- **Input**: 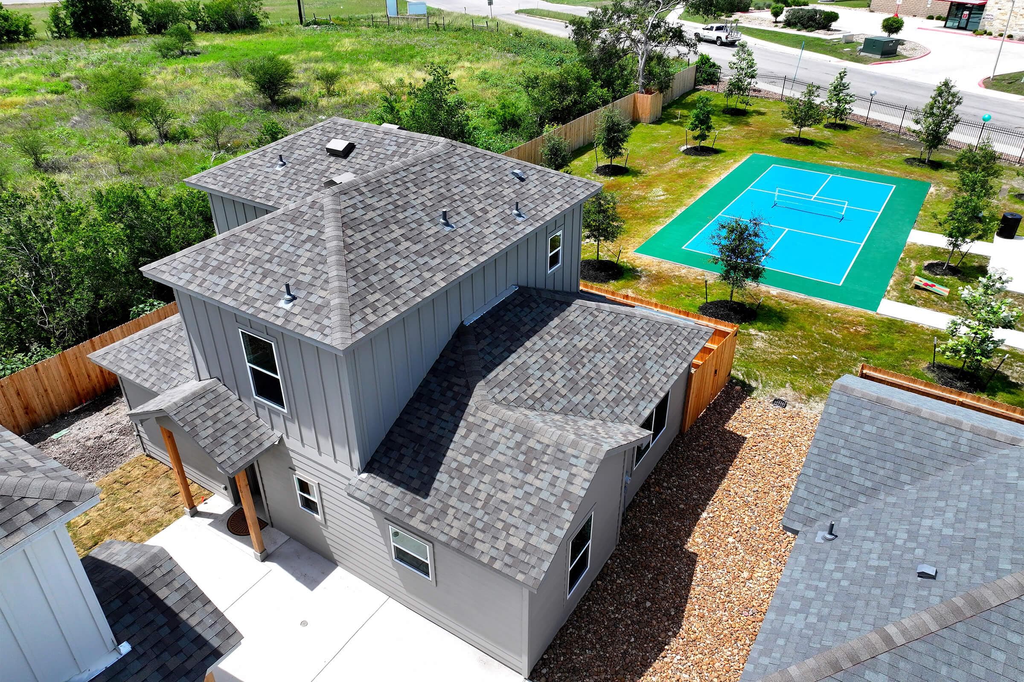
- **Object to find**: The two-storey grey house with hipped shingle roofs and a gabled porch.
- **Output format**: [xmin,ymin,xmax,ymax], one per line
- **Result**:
[86,116,717,682]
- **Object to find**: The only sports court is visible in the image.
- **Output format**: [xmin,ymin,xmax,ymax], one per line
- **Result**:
[630,154,932,316]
